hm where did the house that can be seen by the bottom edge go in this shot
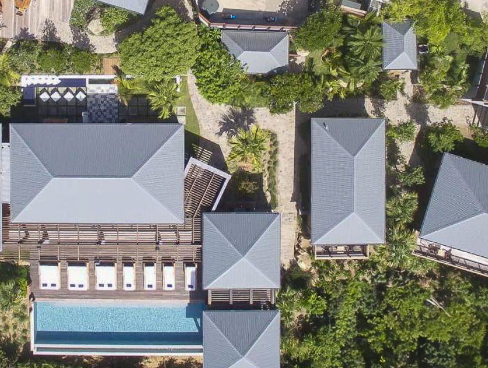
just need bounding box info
[202,305,280,368]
